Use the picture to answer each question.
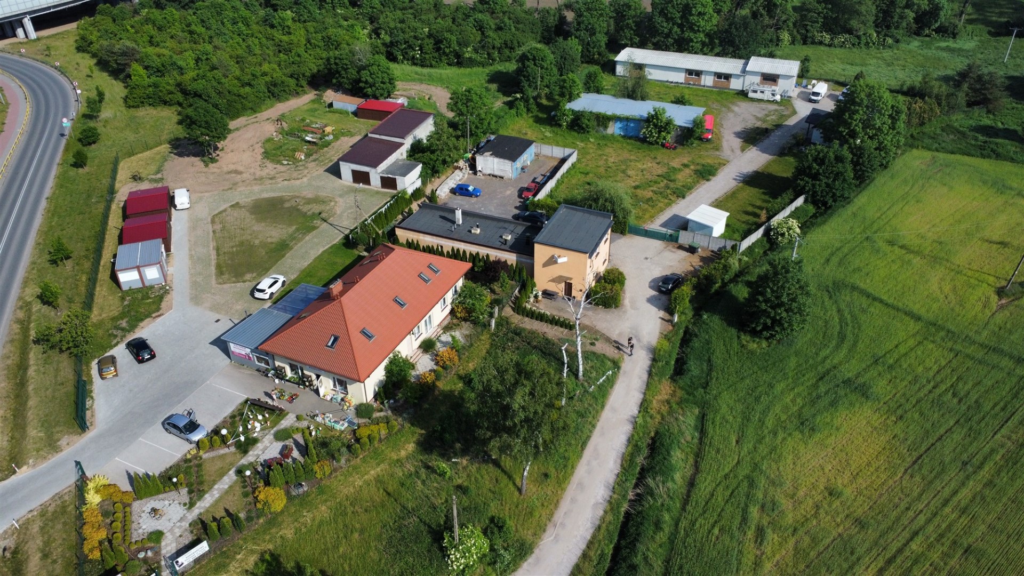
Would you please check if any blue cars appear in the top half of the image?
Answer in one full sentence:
Yes, a blue car can be seen in the top half of the image.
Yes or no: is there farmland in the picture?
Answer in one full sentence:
Yes, some farmland is visible.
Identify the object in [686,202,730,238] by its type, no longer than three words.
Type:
shed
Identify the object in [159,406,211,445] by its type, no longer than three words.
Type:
car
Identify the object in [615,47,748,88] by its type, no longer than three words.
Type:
building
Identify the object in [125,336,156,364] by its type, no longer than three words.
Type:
car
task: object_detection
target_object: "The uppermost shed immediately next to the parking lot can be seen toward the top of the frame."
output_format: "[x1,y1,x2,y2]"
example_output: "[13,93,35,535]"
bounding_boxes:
[126,189,175,221]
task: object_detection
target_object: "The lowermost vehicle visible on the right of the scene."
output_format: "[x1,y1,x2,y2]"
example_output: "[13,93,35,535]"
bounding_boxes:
[654,269,685,291]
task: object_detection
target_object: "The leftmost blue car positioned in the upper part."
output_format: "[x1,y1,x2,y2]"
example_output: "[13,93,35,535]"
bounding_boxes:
[452,183,483,199]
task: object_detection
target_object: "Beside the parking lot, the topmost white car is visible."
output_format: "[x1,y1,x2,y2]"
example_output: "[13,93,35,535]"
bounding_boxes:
[174,190,191,209]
